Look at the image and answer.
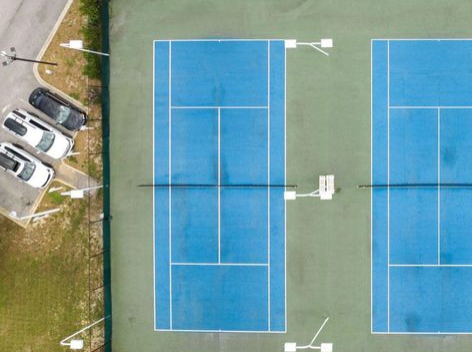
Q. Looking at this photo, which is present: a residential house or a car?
car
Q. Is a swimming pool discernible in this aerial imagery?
No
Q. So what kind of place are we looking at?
sports ground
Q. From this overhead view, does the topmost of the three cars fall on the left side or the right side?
left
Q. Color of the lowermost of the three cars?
white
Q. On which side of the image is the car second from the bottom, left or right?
left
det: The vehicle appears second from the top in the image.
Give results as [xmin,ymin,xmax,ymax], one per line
[4,112,70,157]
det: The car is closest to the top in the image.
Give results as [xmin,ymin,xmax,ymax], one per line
[29,87,89,130]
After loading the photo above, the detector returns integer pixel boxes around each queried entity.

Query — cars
[29,87,89,130]
[0,139,55,184]
[4,112,70,157]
